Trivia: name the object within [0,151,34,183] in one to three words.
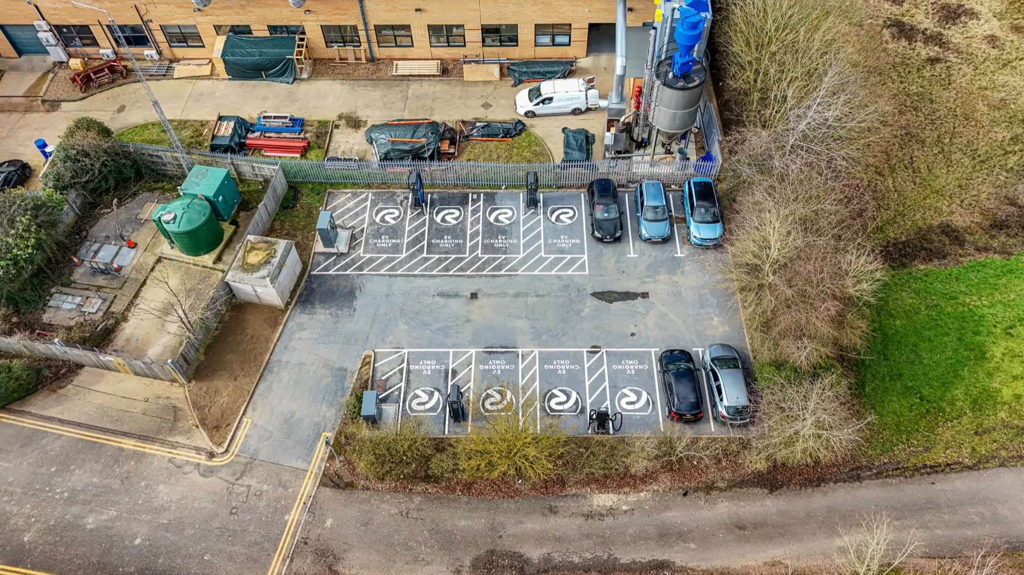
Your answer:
car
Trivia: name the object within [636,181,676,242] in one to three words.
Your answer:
car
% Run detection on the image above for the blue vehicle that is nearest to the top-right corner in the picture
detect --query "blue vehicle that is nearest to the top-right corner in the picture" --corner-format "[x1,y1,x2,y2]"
[681,180,726,247]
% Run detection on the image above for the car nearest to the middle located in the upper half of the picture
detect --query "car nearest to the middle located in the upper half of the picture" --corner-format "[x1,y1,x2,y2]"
[589,179,627,241]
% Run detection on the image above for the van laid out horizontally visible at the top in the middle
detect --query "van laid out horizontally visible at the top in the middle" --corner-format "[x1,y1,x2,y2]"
[515,70,604,114]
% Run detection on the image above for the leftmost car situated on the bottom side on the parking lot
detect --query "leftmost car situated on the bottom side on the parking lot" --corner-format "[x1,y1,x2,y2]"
[662,346,709,423]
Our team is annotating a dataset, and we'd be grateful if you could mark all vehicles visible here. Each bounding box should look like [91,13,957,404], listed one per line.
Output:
[704,344,755,425]
[681,180,726,247]
[515,70,604,114]
[0,151,34,183]
[636,181,676,242]
[662,346,709,423]
[589,179,627,241]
